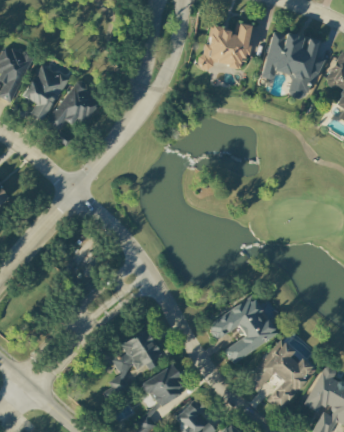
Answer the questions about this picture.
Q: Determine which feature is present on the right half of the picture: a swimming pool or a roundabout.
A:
swimming pool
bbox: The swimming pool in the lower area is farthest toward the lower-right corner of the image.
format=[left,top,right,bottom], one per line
[287,335,316,362]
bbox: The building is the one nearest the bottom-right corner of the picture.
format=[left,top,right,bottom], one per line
[304,364,344,432]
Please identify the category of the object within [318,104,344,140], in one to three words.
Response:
swimming pool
